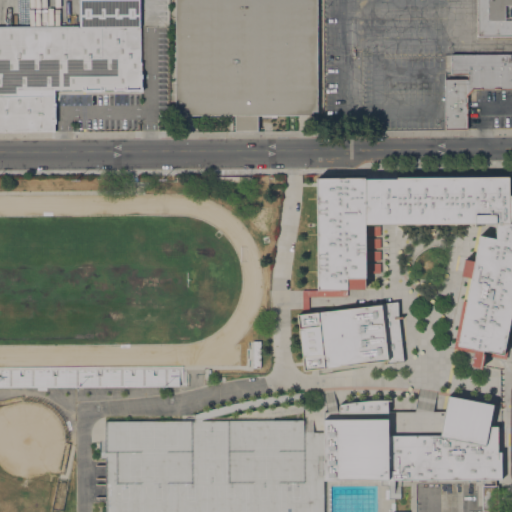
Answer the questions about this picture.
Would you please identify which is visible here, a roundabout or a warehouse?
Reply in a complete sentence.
There is a warehouse in the scene.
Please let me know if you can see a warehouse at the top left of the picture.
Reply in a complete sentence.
Yes, at the top left of the picture there is a warehouse.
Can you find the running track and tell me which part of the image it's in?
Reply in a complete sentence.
The running track is in the left part of the image.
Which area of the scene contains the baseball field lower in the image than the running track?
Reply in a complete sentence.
The baseball field lower in the image than the running track is in the bottom left part of the image.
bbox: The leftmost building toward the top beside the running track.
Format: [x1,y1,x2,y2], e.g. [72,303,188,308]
[0,0,141,132]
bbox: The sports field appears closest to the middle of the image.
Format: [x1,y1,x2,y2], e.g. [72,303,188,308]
[0,216,242,344]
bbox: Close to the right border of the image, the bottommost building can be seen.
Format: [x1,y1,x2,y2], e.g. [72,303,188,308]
[394,426,502,481]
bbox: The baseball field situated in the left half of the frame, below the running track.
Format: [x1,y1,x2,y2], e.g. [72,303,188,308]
[0,400,66,487]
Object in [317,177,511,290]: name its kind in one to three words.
building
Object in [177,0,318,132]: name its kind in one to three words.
warehouse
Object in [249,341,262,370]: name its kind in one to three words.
shed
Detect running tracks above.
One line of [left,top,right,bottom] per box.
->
[0,196,262,366]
